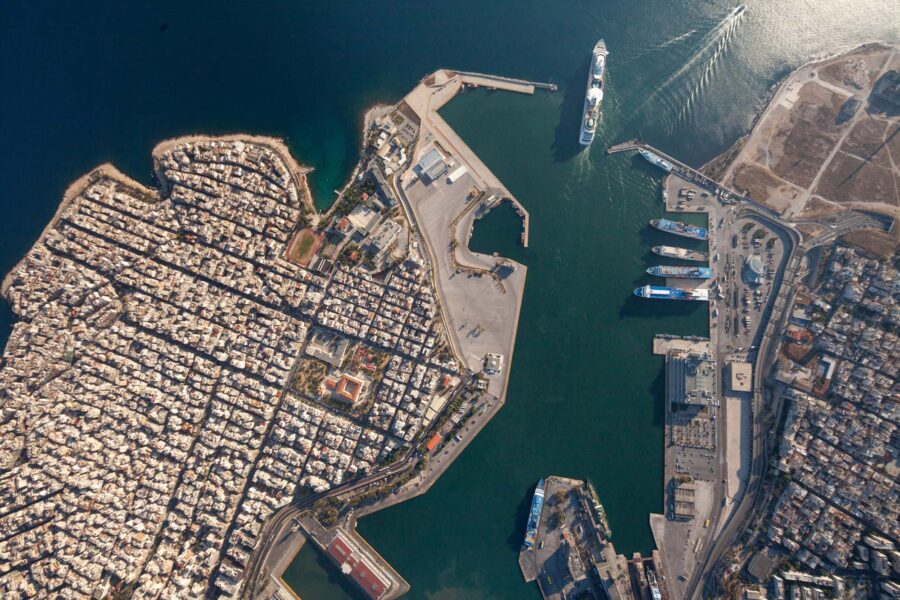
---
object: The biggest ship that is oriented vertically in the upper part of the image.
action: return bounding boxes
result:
[577,41,607,148]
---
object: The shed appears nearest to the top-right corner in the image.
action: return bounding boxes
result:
[835,96,861,123]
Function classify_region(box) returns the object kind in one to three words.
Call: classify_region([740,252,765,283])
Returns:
building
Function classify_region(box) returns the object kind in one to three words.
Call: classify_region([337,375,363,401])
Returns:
building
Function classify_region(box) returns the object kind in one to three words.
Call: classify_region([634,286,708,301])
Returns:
ship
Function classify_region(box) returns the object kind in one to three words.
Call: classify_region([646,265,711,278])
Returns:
ship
